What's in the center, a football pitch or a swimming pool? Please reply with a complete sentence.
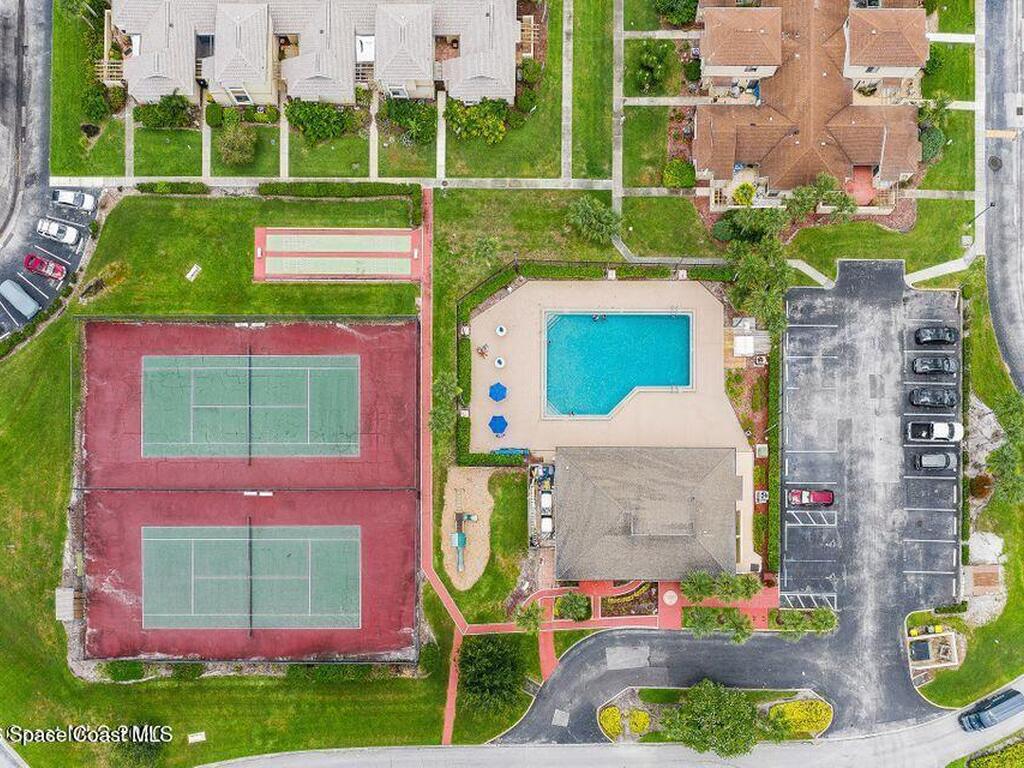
Visible in the center is a swimming pool.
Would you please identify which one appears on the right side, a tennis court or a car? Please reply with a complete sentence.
It is a car that can be seen on the right side.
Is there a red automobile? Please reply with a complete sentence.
Yes, there is a red automobile in the image.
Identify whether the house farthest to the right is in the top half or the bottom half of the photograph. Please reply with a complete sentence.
The house farthest to the right sits in the top half of the picture.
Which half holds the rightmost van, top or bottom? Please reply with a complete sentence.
Seen from above, the rightmost van lies in the bottom half of the view.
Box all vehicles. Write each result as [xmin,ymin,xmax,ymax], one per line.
[909,388,958,409]
[960,688,1024,732]
[52,190,99,213]
[541,490,552,513]
[907,421,964,442]
[0,276,42,322]
[914,326,959,345]
[36,219,83,246]
[541,513,552,534]
[23,253,70,280]
[786,488,832,507]
[915,452,957,471]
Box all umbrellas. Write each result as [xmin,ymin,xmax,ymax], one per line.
[489,382,507,402]
[490,415,507,435]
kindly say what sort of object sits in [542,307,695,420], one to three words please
swimming pool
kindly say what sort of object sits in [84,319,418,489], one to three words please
tennis court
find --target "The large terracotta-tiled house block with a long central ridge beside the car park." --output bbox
[693,0,928,190]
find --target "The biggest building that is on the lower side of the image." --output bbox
[555,447,742,581]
